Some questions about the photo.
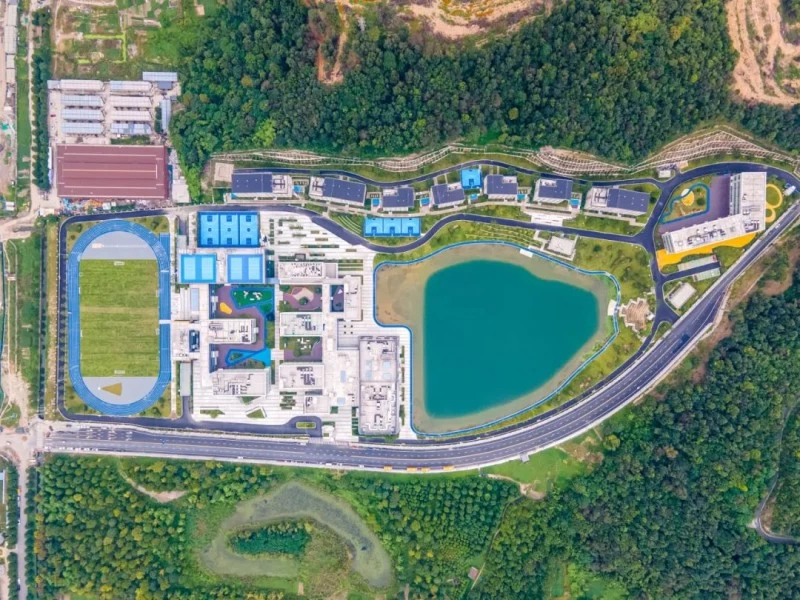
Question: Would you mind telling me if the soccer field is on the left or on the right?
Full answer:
The soccer field sits on the left side.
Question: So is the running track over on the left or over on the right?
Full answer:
The running track sits on the left side.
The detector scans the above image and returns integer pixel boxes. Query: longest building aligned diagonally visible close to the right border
[660,172,767,255]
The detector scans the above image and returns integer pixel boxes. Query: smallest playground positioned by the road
[662,184,710,223]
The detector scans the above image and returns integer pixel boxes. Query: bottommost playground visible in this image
[214,284,275,370]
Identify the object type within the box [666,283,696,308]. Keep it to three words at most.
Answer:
building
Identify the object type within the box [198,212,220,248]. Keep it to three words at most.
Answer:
basketball court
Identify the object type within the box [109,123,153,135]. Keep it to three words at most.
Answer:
shed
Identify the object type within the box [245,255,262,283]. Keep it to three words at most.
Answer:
tennis court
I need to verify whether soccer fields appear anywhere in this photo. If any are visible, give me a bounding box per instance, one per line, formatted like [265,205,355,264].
[79,259,159,377]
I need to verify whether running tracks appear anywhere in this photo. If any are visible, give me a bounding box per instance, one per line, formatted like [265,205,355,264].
[67,220,170,416]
